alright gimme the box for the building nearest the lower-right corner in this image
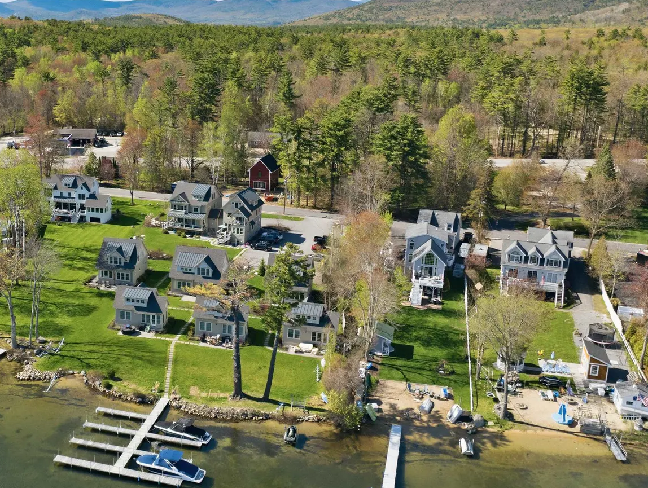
[610,368,648,418]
